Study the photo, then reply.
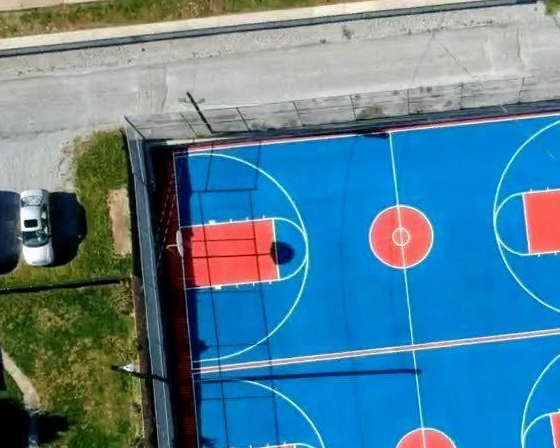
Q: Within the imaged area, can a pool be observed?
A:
No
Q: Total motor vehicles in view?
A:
1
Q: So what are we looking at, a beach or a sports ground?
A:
sports ground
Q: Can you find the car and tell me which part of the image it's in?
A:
left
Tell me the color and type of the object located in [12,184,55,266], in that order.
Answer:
white car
